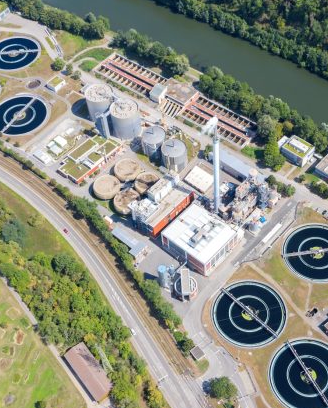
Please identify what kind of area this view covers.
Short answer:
industrial area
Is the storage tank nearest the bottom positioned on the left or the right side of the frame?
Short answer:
right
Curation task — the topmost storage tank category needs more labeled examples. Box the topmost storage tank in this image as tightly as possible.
[0,36,41,71]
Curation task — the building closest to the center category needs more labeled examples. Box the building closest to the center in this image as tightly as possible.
[131,171,193,236]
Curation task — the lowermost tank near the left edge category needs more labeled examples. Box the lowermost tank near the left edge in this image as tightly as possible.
[0,94,49,137]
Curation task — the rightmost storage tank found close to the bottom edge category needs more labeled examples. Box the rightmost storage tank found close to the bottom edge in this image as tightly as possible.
[268,338,328,408]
